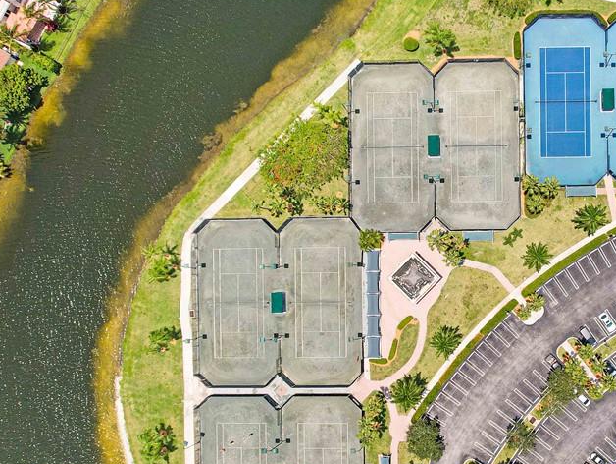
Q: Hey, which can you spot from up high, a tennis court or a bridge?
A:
tennis court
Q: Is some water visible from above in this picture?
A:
Yes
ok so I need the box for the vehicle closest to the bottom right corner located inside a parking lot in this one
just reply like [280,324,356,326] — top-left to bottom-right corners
[589,450,609,464]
